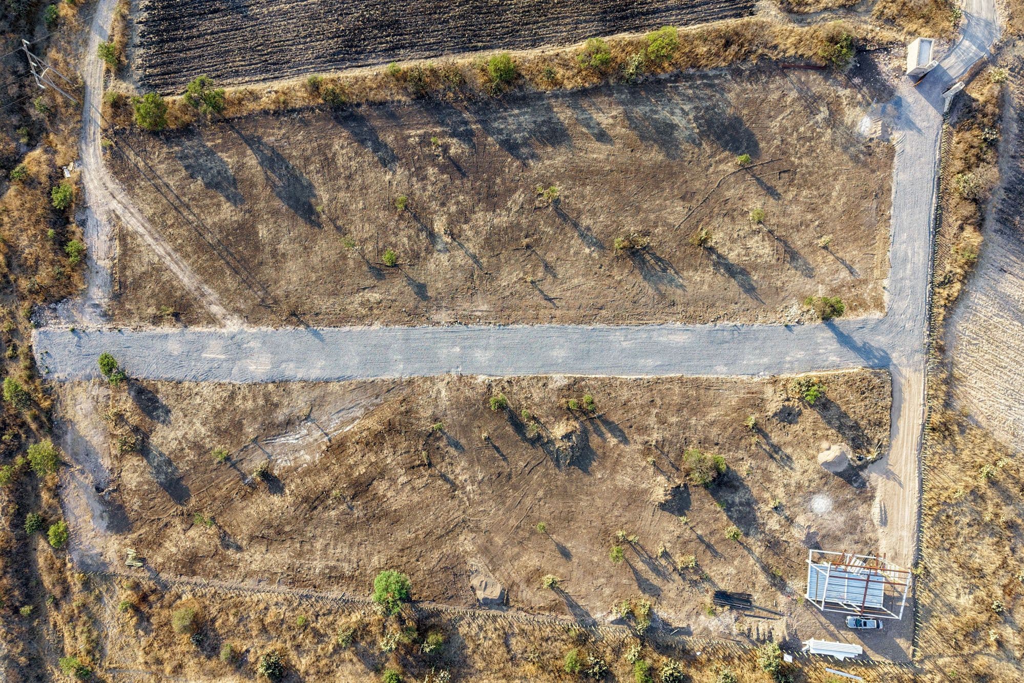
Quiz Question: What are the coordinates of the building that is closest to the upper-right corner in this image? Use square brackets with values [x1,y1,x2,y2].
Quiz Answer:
[907,37,936,75]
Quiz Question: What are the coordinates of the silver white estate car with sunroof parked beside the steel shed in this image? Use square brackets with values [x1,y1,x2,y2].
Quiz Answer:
[845,614,884,632]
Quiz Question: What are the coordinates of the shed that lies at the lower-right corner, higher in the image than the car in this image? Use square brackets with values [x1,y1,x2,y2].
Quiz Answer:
[801,549,911,620]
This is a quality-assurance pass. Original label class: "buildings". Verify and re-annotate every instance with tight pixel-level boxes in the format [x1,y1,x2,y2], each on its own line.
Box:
[907,37,936,75]
[801,549,911,620]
